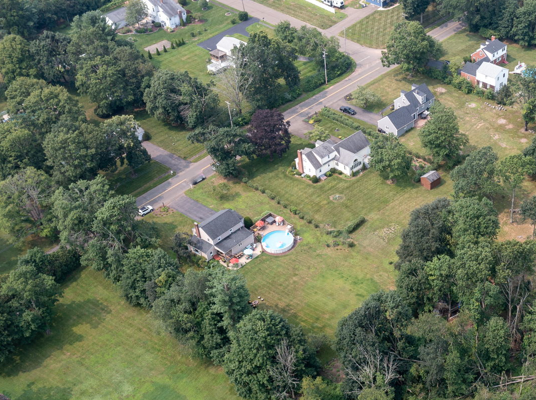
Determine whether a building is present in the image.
Yes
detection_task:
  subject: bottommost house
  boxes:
[184,206,253,261]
